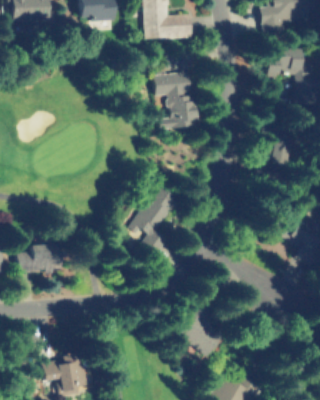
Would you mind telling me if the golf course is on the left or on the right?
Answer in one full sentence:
The golf course is on the left side of the image.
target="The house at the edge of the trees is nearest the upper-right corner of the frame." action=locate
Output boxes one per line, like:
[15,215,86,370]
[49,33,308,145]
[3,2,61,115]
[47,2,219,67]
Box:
[261,0,298,27]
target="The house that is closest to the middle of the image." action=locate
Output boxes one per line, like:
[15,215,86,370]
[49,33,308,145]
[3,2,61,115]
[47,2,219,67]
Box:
[124,183,175,254]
